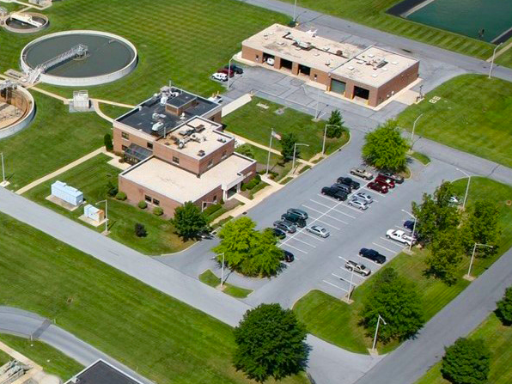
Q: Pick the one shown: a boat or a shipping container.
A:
shipping container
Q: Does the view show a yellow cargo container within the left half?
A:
No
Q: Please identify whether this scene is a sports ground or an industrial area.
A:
industrial area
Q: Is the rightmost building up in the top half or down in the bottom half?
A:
top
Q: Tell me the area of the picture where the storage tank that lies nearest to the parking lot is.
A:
top left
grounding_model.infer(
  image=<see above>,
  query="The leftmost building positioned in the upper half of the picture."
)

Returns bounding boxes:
[113,77,254,219]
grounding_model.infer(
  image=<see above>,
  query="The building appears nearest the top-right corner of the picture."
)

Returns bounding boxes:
[241,25,418,108]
